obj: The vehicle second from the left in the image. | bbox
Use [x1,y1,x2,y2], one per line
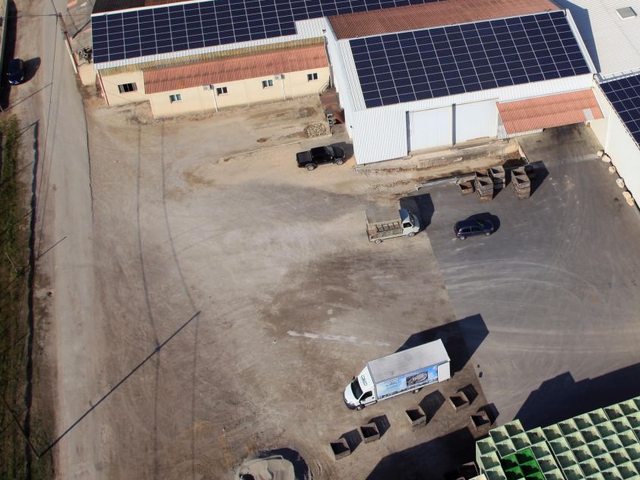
[298,143,349,169]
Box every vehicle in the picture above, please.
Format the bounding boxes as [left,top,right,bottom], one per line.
[2,52,24,82]
[298,143,349,169]
[452,215,493,239]
[340,339,444,410]
[360,206,424,241]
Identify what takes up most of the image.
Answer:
paved ground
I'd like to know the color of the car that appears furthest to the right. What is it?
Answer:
black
